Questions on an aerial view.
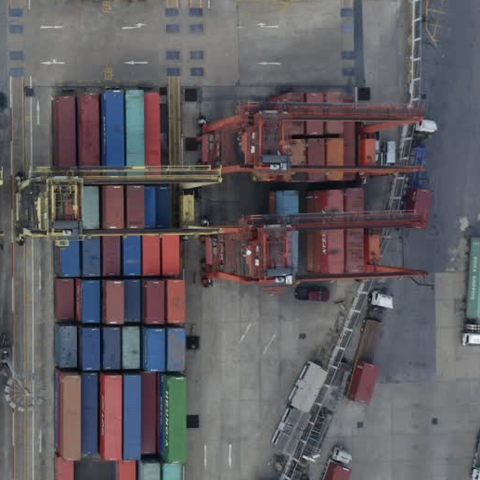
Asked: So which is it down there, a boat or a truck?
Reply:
truck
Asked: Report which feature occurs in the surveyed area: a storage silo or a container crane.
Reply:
container crane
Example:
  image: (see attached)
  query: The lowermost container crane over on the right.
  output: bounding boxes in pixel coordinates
[201,203,434,289]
